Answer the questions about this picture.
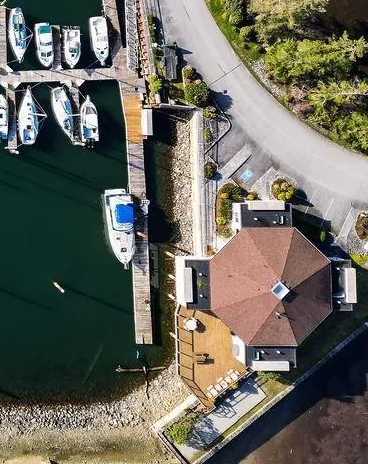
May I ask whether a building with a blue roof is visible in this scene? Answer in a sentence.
No, no building with a blue roof is visible in the scene.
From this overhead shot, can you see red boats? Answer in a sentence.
No, the scene contains no red boat.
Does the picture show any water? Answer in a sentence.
Yes, there is water in the image.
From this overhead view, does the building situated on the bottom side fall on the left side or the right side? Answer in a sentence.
The building situated on the bottom side is on the right side of the image.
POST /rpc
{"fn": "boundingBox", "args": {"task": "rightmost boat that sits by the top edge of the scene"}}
[88,16,110,68]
